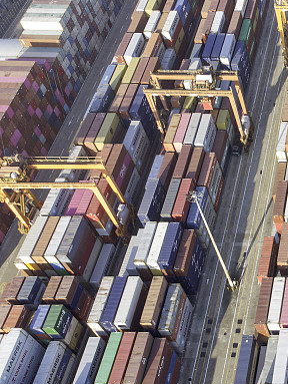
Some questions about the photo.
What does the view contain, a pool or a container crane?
container crane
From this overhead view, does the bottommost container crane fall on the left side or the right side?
left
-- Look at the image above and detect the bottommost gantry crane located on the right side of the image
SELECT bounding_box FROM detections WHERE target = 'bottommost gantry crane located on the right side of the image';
[137,69,254,145]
